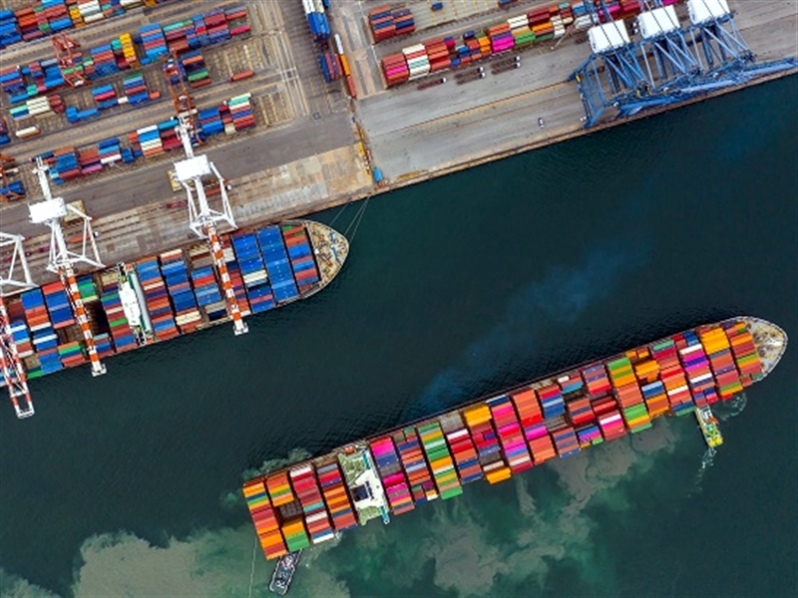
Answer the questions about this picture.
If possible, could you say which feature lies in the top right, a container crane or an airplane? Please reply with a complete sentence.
There is a container crane in the top right.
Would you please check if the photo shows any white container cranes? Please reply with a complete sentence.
Yes, there is a white container crane in the image.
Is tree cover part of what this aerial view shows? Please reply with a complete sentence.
No, no tree cover is visible.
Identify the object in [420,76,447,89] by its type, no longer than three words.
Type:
vehicle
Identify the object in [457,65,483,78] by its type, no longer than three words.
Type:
vehicle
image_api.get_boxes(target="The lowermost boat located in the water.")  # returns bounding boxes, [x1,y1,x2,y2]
[273,553,298,598]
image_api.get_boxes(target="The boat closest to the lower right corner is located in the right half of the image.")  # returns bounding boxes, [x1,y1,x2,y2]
[701,407,725,450]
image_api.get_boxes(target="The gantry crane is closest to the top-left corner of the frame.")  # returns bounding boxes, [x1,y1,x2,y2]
[52,28,97,96]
